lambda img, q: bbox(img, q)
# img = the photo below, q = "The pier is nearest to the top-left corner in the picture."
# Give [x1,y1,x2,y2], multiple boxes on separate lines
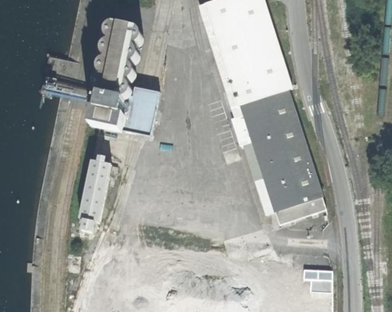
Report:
[46,54,85,82]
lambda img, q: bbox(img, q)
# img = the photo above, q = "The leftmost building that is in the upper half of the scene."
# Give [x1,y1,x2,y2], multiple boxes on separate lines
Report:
[84,88,130,139]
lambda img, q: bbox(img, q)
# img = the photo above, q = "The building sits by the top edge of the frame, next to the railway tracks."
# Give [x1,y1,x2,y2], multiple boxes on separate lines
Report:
[198,0,294,108]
